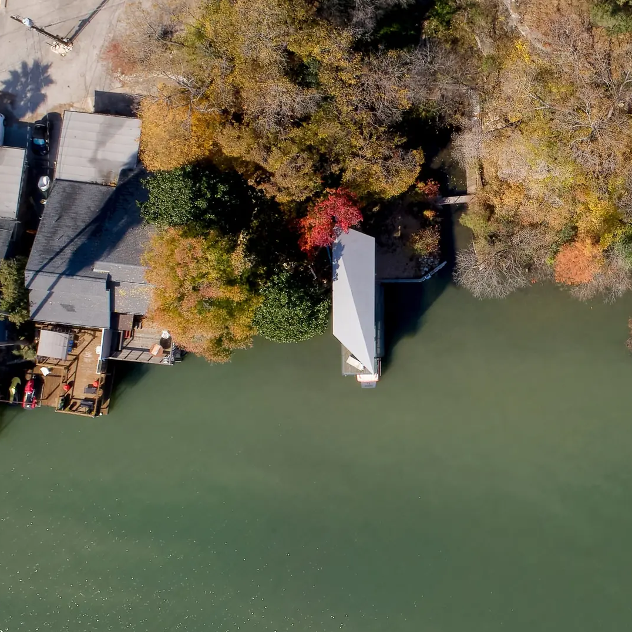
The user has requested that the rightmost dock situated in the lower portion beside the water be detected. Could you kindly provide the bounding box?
[25,367,62,407]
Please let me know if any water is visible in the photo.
Yes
